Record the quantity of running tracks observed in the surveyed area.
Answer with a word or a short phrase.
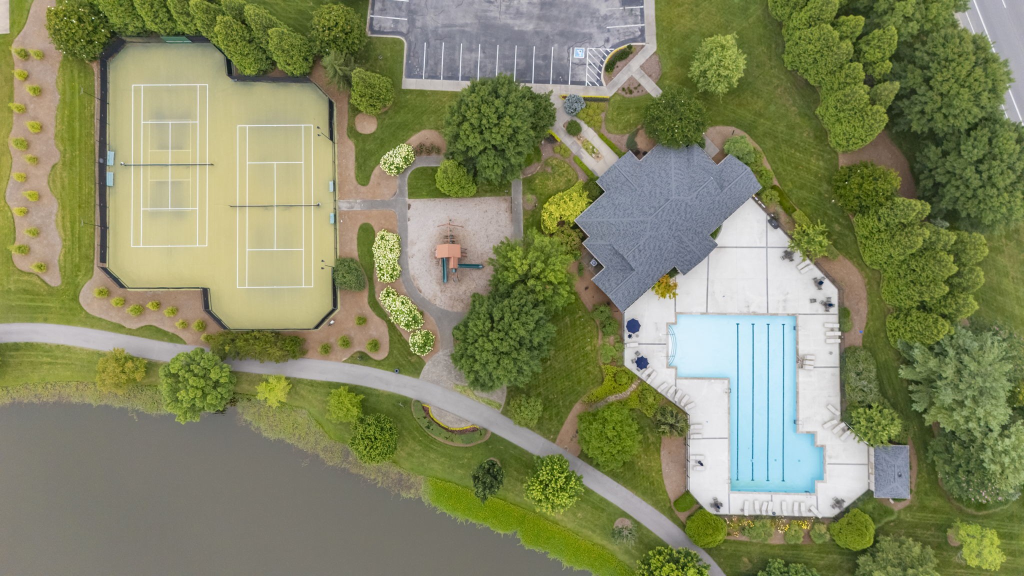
none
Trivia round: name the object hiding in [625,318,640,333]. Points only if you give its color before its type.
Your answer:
blue umbrella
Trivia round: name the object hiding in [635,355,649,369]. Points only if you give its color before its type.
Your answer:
blue umbrella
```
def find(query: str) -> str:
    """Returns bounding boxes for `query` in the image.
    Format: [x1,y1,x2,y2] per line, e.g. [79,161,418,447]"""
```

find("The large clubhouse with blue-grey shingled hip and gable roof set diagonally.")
[573,127,762,313]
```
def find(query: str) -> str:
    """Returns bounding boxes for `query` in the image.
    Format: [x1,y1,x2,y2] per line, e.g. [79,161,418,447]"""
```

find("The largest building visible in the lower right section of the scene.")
[866,444,910,499]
